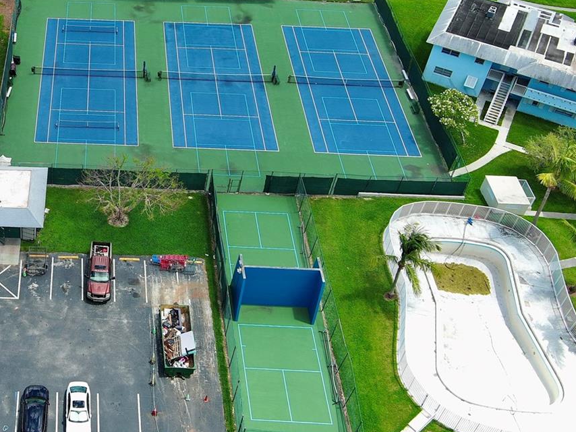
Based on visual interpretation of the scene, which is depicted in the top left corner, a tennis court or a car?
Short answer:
tennis court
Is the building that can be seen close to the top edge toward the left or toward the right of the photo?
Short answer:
right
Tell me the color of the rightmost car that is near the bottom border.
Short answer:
white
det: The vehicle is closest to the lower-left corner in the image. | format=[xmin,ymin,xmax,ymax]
[19,386,49,432]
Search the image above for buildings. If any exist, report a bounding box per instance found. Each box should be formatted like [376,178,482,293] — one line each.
[421,0,576,129]
[0,166,48,244]
[479,175,540,220]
